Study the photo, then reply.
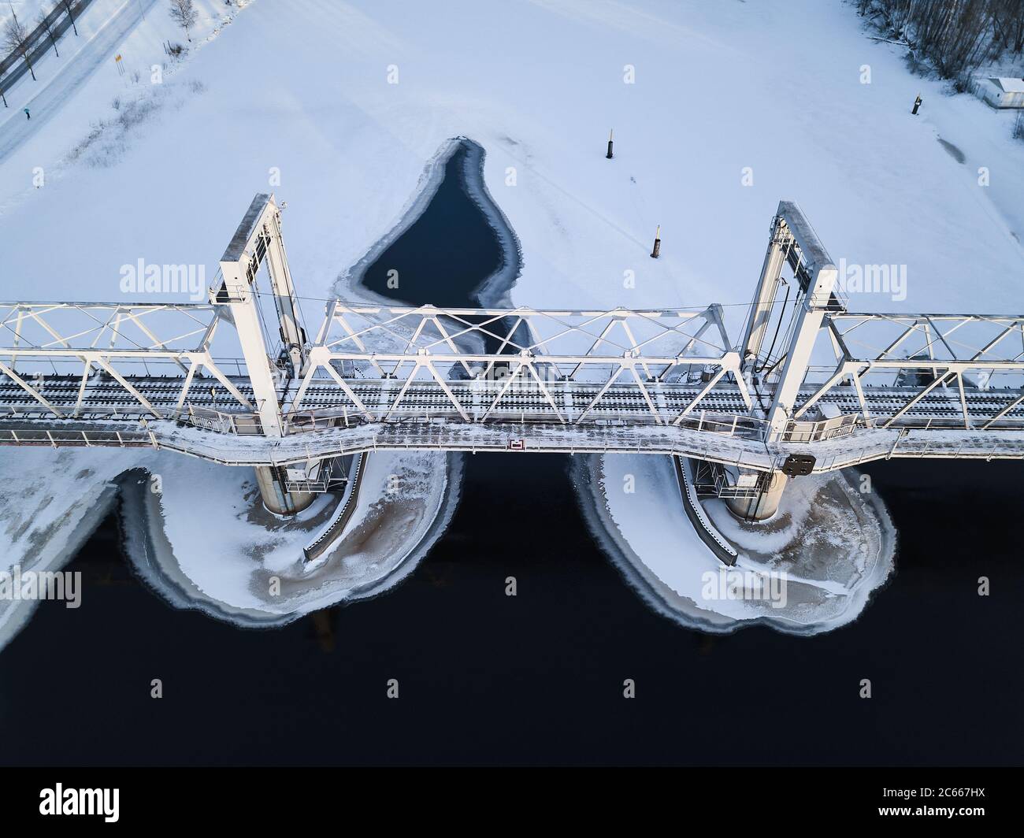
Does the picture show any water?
Yes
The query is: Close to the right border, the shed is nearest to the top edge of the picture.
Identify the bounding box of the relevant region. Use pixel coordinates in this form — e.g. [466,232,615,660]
[957,75,1024,109]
